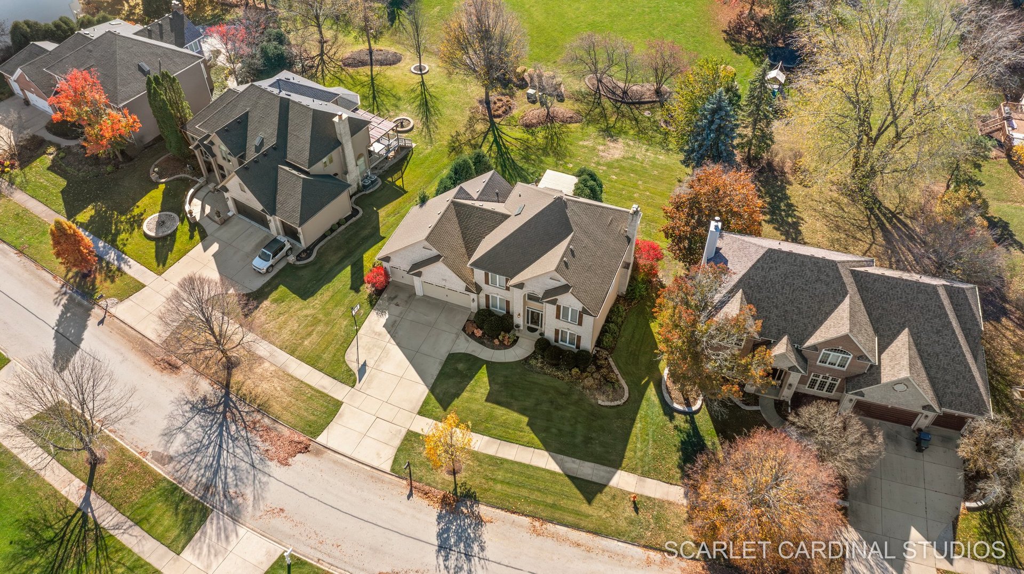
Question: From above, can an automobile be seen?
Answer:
Yes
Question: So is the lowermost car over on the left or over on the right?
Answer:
left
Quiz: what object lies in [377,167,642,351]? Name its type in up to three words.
house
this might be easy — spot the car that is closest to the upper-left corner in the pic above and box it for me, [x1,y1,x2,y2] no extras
[251,233,294,271]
